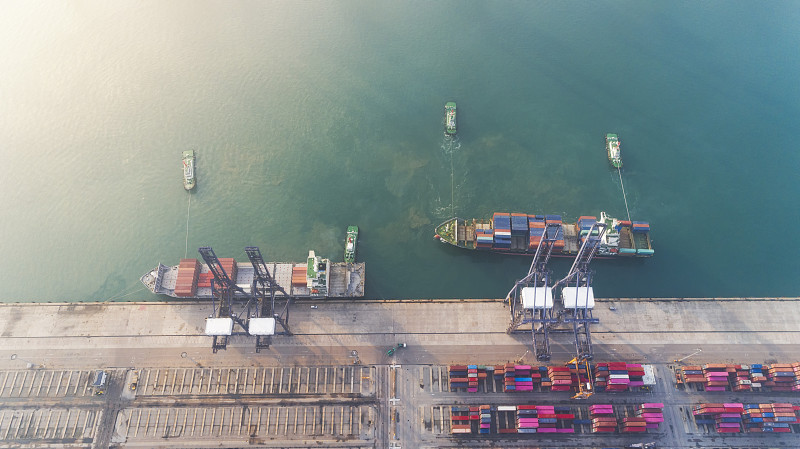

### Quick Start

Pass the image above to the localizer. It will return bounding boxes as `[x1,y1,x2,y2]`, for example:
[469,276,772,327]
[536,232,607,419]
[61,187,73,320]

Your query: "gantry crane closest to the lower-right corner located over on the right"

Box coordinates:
[565,355,595,401]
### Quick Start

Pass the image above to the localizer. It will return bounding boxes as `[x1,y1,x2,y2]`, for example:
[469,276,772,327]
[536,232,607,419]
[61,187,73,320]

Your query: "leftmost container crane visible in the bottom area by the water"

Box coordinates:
[195,251,254,354]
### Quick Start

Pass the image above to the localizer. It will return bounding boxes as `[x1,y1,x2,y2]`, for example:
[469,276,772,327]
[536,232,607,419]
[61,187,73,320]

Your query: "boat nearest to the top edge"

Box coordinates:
[441,102,459,137]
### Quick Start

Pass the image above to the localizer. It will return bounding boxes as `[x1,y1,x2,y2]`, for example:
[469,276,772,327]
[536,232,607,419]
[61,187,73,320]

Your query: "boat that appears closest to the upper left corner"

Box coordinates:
[179,151,199,191]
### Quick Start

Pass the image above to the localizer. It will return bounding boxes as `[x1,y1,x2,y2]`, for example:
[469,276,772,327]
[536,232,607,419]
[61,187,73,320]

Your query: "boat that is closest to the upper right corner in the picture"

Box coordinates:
[603,135,623,170]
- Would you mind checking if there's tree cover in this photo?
No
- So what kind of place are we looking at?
port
